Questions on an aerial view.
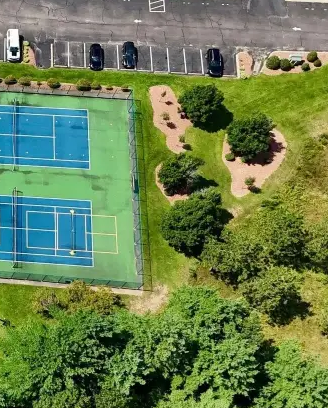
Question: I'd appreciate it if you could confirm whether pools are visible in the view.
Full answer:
No, no pool is visible in the scene.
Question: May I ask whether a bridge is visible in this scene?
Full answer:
No, I can see no bridge in this picture.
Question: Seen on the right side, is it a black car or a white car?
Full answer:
Visible on the right side is a black car.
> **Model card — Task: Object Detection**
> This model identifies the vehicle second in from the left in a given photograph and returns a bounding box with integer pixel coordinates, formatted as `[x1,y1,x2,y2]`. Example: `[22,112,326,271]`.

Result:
[89,44,103,72]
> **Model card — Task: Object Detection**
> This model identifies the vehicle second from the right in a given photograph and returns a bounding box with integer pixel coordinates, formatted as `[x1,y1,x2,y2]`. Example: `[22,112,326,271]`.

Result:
[121,41,137,69]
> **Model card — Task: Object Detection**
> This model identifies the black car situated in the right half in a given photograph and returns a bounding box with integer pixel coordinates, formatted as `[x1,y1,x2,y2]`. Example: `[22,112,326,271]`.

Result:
[206,48,223,77]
